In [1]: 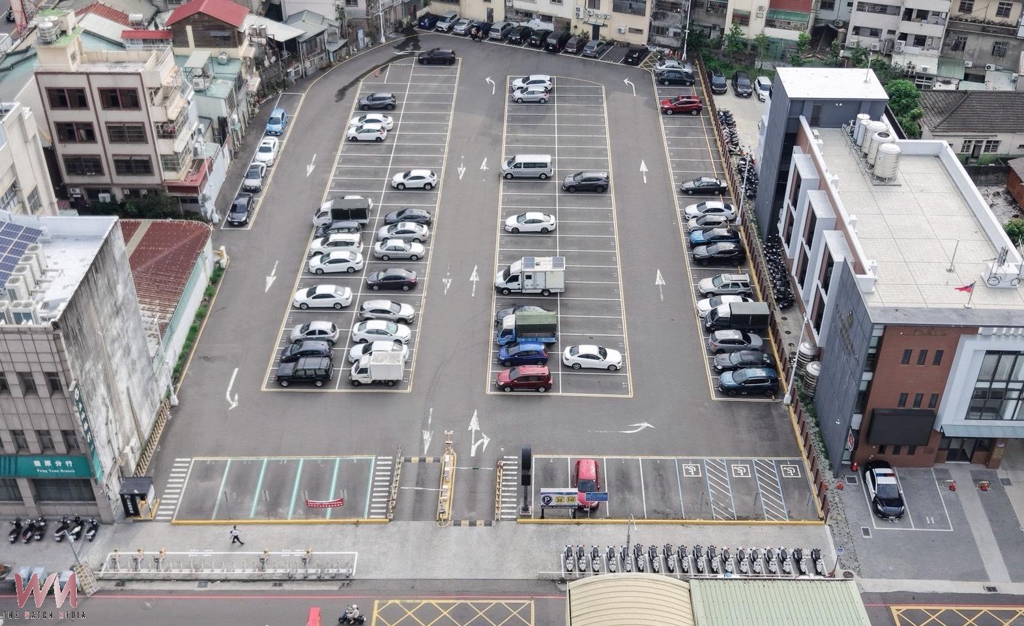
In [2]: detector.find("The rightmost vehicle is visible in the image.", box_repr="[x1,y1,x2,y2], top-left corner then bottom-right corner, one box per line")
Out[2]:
[865,459,912,517]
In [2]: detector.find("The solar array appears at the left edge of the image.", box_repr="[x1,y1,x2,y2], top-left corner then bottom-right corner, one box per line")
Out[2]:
[0,222,42,295]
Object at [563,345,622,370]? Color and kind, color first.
white car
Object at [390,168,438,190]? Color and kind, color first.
white car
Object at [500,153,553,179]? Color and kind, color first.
white vehicle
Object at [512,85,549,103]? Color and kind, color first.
gray car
